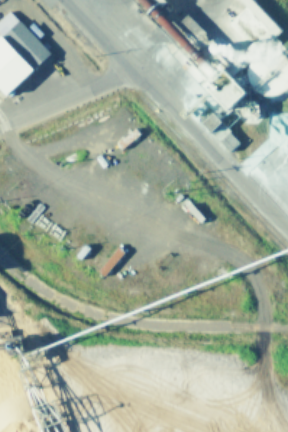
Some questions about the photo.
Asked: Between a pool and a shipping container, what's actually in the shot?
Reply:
shipping container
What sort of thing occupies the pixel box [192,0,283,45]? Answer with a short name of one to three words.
building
